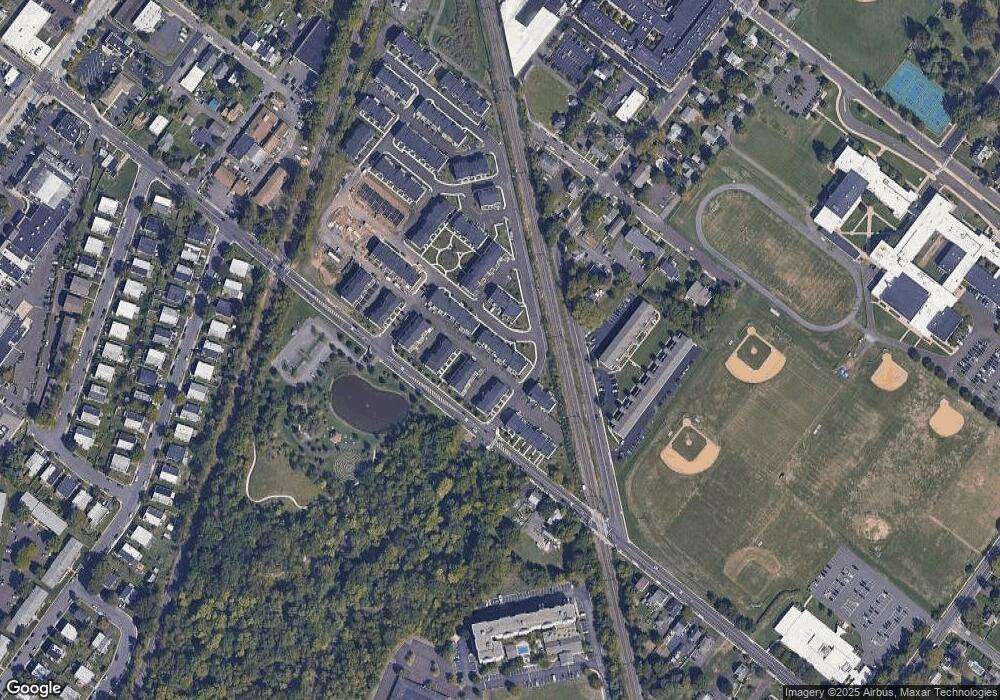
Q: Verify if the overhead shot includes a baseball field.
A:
Yes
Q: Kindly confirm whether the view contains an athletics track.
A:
Yes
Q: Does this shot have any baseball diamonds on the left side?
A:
No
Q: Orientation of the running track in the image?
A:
at an angle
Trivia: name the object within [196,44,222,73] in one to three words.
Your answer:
building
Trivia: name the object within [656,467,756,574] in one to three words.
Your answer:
soccer field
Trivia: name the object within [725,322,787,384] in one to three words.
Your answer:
baseball field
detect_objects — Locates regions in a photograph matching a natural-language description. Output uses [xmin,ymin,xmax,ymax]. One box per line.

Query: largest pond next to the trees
[331,375,408,432]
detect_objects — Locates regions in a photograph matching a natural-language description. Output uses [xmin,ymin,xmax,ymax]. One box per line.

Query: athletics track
[696,185,863,330]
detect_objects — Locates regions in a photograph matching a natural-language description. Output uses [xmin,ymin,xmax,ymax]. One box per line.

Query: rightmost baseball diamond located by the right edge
[929,398,965,437]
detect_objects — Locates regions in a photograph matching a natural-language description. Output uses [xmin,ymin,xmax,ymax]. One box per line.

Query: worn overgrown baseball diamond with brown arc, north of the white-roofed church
[724,546,782,608]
